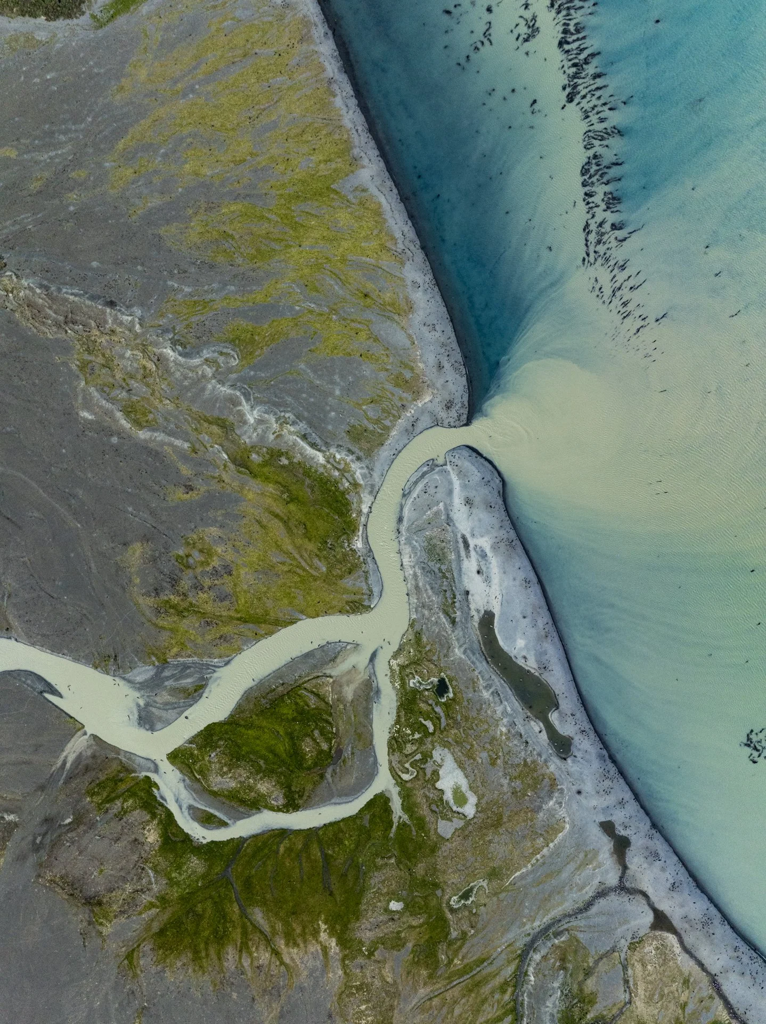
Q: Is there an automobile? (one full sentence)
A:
No, the photo shows no automobile.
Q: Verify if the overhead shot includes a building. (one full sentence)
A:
No, the photo shows no building.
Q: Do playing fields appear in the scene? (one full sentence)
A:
No, there's no playing field here.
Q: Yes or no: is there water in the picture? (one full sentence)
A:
Yes, some water is visible.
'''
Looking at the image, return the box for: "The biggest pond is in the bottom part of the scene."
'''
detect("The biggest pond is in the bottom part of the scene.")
[478,610,573,757]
